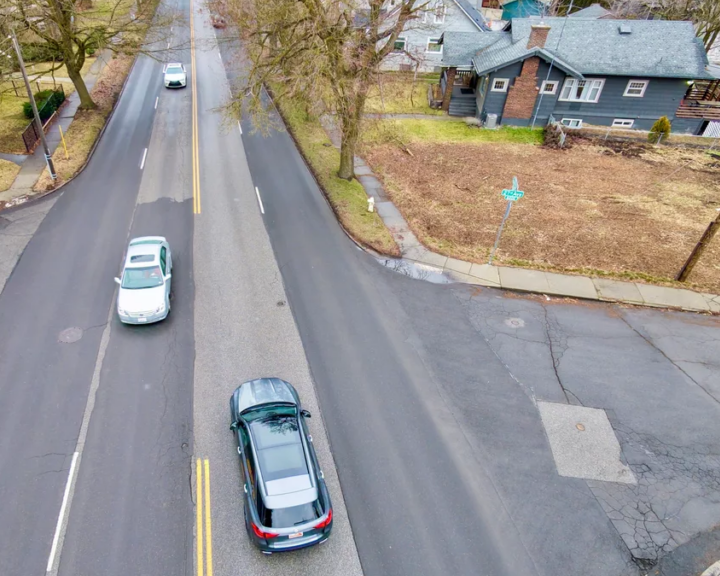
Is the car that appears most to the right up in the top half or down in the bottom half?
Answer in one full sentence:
The car that appears most to the right is in the bottom half of the image.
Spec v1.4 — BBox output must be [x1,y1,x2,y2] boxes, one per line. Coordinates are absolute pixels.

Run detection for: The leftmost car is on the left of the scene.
[114,239,171,321]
